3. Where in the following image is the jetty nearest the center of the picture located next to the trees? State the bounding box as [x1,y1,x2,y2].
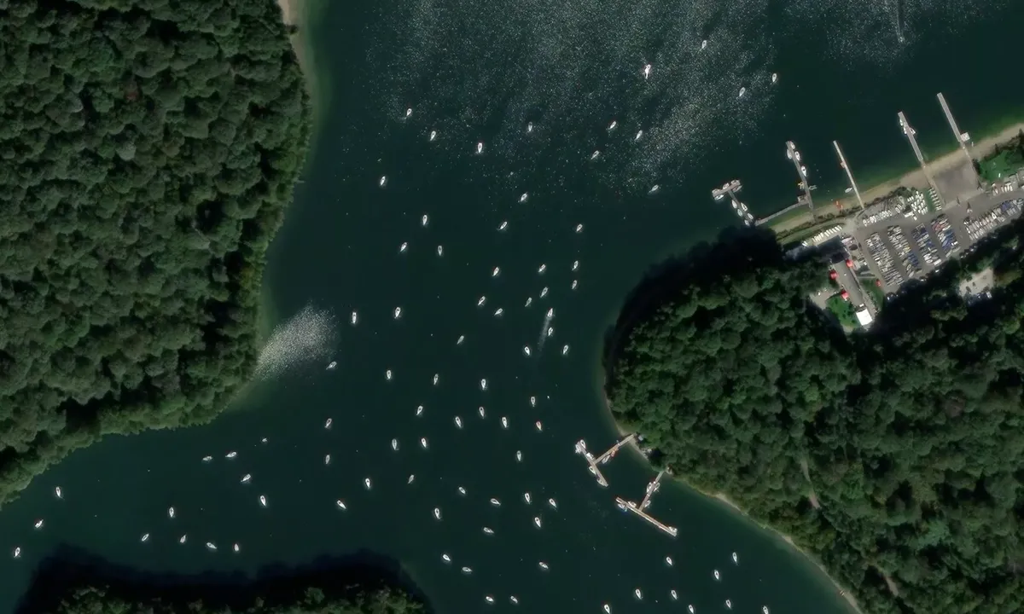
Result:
[577,437,631,487]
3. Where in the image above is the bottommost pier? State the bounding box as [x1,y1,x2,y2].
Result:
[615,470,676,537]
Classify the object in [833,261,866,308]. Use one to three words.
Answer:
building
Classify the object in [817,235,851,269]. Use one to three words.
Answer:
building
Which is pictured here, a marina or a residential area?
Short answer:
marina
